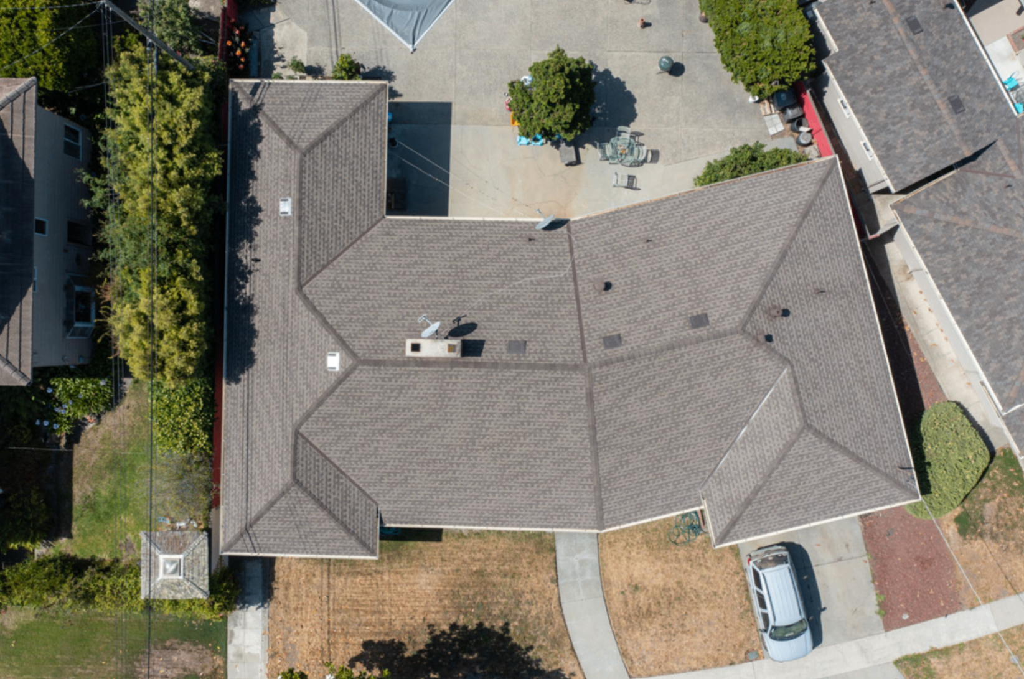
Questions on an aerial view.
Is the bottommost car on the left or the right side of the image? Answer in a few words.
right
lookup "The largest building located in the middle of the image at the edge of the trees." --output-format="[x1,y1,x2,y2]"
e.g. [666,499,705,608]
[221,80,920,558]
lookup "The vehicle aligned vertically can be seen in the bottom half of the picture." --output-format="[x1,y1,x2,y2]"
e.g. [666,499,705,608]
[741,540,812,665]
